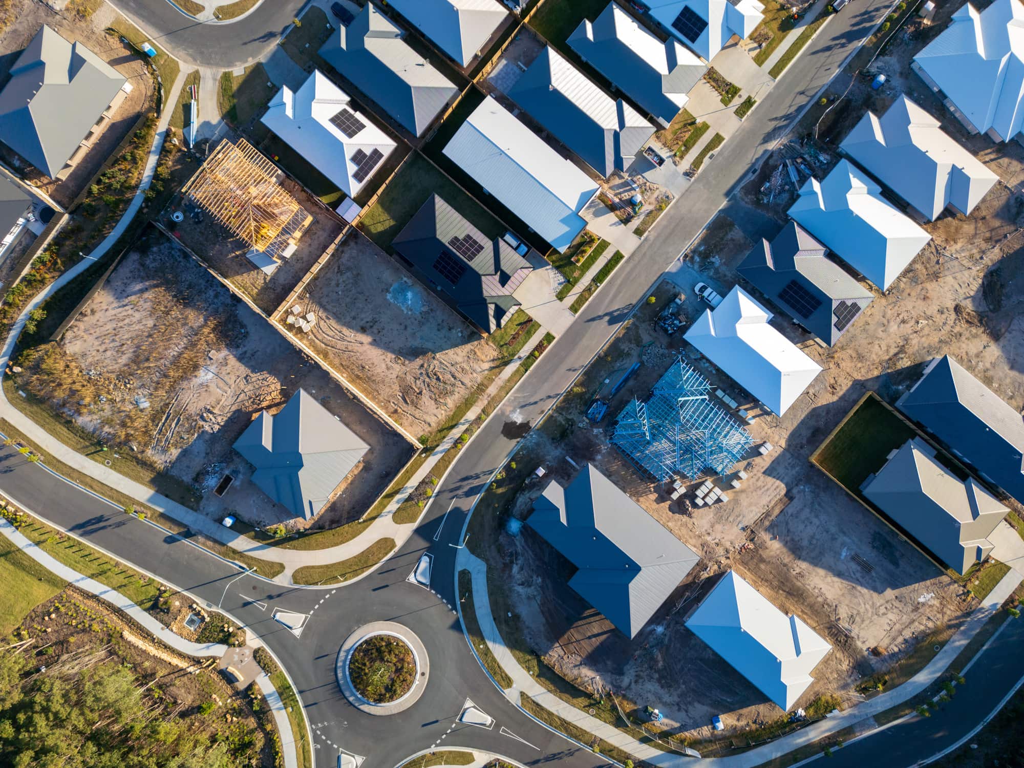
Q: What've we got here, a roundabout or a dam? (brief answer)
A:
roundabout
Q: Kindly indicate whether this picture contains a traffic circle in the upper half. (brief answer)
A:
No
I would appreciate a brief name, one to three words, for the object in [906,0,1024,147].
house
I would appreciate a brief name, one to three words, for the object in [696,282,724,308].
truck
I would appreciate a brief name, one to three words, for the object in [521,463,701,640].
house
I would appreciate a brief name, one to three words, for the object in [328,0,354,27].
truck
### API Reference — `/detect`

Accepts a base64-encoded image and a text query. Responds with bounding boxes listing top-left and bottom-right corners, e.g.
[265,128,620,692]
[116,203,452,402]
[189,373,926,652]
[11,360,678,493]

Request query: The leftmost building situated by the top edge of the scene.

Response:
[0,24,133,185]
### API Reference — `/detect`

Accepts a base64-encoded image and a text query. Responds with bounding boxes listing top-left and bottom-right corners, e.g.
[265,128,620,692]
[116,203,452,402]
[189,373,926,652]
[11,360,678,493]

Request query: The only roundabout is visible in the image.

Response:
[336,621,429,715]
